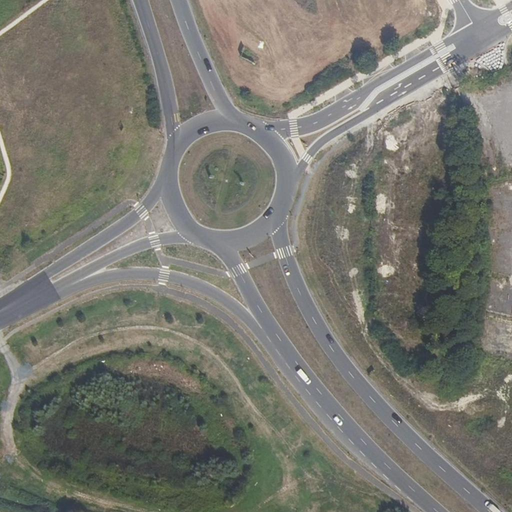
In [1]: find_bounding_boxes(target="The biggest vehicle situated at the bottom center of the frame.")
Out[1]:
[296,368,310,384]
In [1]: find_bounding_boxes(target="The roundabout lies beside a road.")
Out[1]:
[144,108,303,256]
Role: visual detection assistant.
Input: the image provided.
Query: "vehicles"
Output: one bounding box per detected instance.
[198,128,210,134]
[264,125,275,130]
[392,414,402,424]
[326,333,334,344]
[264,207,272,217]
[486,503,500,512]
[334,416,343,426]
[204,58,212,70]
[247,122,258,130]
[296,368,310,384]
